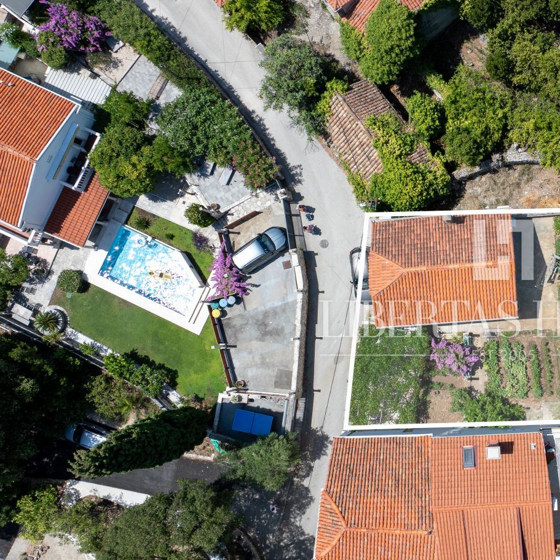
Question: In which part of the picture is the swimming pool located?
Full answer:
Look in the left portion of the view to spot the swimming pool.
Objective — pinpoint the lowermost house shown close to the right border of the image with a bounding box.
[432,422,559,560]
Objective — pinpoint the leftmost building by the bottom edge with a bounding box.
[313,424,438,560]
